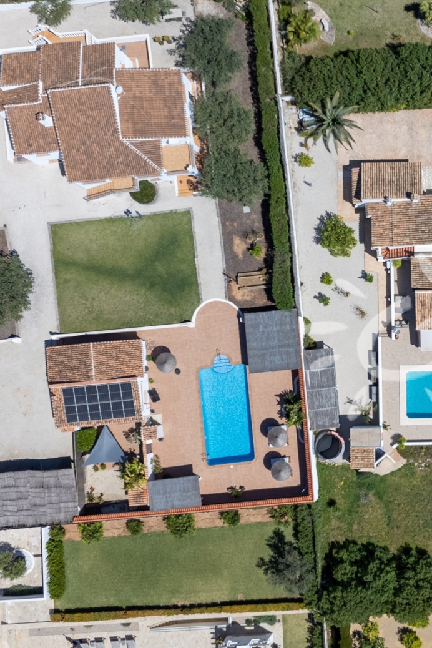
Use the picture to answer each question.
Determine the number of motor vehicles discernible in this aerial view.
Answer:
0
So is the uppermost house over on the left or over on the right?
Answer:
left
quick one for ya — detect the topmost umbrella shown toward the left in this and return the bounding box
[155,352,177,374]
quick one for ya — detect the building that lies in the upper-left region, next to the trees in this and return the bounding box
[0,25,204,200]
